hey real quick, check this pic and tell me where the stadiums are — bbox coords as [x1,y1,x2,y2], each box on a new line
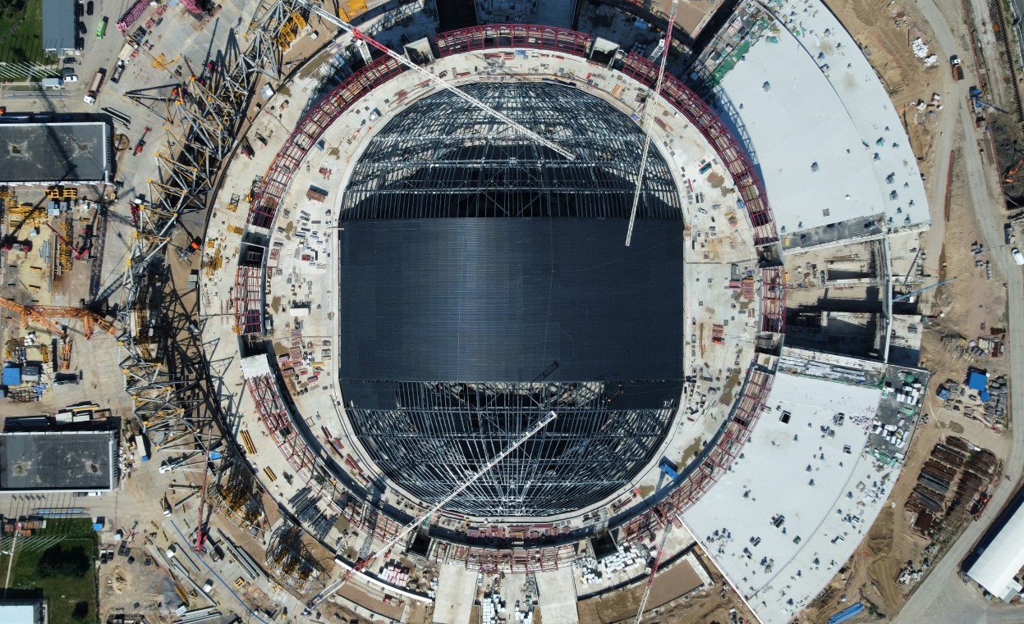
[193,0,930,624]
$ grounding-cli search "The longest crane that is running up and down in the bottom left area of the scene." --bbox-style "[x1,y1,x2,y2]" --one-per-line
[188,423,222,570]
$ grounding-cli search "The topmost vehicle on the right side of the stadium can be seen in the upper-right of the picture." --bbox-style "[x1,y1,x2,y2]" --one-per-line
[951,53,969,80]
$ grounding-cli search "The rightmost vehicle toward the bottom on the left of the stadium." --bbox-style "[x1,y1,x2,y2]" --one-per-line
[130,435,148,464]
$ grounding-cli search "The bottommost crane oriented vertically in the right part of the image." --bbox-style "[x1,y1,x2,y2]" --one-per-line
[633,522,672,624]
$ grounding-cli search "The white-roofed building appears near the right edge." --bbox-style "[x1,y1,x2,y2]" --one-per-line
[954,470,1024,604]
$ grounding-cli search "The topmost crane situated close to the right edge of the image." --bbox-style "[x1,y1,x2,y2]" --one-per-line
[964,82,1009,116]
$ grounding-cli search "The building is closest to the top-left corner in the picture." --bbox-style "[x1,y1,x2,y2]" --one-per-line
[42,0,82,66]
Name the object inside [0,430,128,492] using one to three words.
building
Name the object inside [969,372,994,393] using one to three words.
building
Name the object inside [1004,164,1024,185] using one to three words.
work vehicle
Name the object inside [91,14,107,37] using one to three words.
vehicle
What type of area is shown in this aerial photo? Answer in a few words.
sports ground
